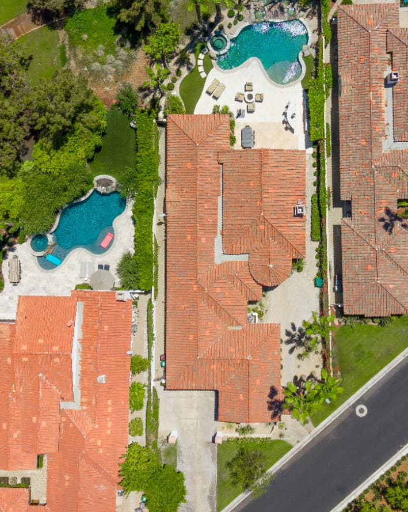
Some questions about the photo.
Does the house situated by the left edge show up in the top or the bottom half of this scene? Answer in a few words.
bottom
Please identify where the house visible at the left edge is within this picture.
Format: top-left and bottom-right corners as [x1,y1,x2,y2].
[0,291,132,512]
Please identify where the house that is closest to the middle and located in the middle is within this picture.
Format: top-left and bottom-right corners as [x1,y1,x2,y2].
[164,113,307,426]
